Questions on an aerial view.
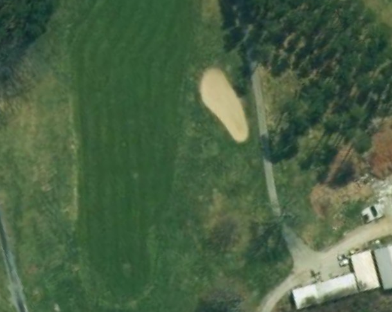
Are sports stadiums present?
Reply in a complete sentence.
No, there is no sports stadium in the image.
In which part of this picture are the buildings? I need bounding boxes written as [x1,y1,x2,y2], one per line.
[292,274,359,310]
[375,247,392,290]
[352,251,381,293]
